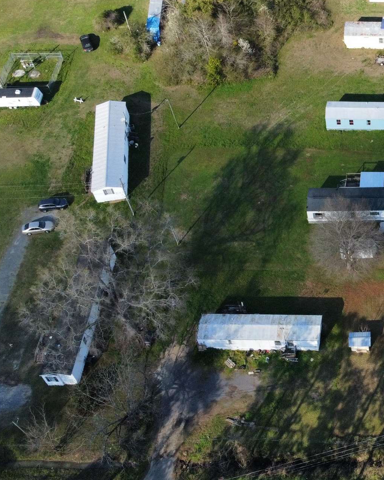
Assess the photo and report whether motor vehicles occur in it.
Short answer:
Yes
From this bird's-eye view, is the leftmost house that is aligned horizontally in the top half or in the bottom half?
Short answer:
bottom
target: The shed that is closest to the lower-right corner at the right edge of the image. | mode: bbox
[349,330,371,356]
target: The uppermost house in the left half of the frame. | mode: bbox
[85,99,139,204]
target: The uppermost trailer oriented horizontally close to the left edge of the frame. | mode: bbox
[0,85,47,107]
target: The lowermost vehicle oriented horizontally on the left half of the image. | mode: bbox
[21,220,55,237]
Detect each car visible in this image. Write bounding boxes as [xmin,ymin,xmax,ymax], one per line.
[80,35,94,54]
[21,220,55,237]
[37,197,70,214]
